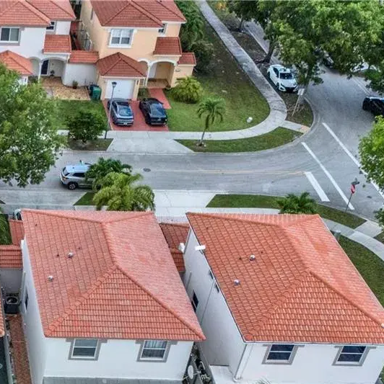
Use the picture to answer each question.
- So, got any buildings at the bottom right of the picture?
Yes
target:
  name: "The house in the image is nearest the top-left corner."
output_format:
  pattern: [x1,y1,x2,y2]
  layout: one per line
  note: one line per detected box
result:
[0,0,74,90]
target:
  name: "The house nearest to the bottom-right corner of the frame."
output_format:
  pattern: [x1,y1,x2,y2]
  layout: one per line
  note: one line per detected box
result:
[186,209,384,384]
